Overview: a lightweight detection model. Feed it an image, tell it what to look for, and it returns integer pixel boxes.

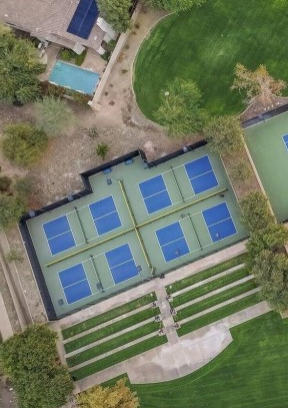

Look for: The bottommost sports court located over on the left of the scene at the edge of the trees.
[41,230,154,317]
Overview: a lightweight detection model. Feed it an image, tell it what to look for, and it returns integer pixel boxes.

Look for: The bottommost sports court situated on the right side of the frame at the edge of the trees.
[136,187,249,276]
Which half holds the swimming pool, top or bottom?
top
